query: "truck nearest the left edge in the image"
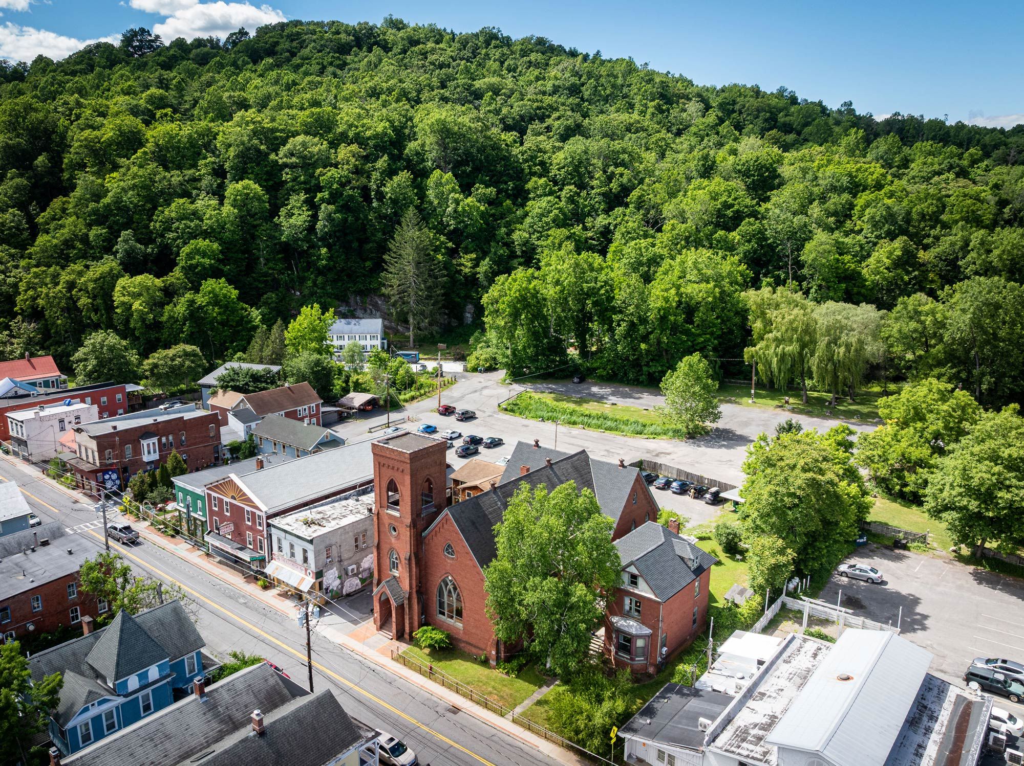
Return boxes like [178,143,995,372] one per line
[102,520,139,543]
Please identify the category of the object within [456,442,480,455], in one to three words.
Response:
vehicle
